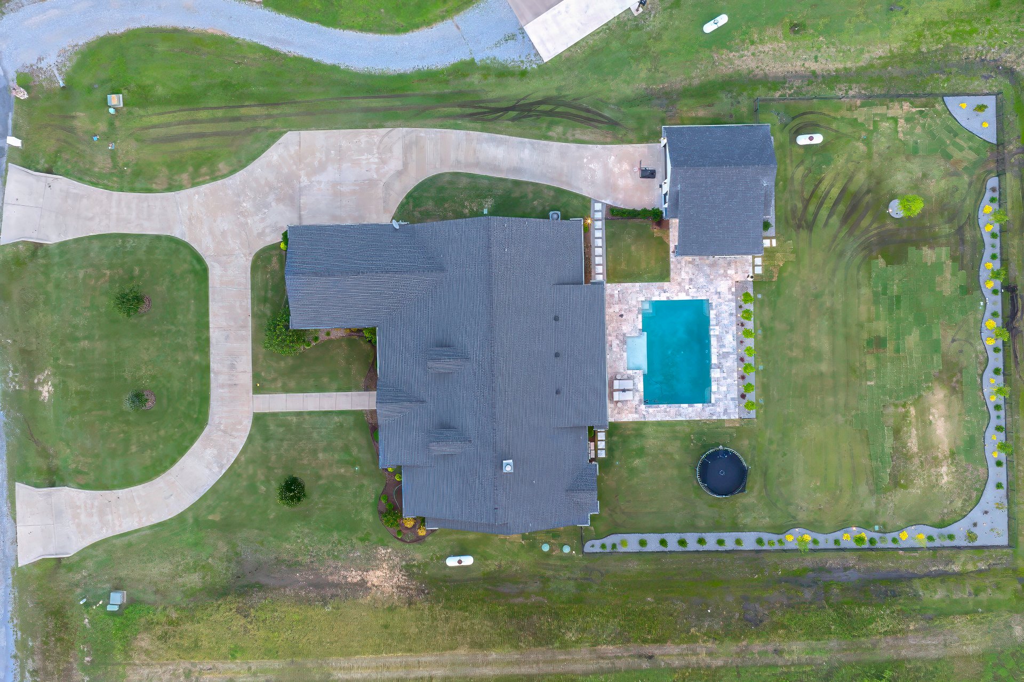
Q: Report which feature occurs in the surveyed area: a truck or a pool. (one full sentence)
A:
Of the two, only a pool appears.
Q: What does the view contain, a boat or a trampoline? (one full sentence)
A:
There is a trampoline in the scene.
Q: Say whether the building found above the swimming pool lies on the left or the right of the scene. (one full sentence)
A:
It is on the right.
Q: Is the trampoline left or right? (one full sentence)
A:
The trampoline sits on the right side.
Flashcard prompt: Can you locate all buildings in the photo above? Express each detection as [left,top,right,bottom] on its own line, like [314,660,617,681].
[662,123,779,256]
[285,216,609,535]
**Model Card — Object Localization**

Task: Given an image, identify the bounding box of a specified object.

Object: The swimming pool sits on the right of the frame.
[627,299,710,405]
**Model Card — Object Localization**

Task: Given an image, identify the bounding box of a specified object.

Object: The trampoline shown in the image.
[696,445,751,497]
